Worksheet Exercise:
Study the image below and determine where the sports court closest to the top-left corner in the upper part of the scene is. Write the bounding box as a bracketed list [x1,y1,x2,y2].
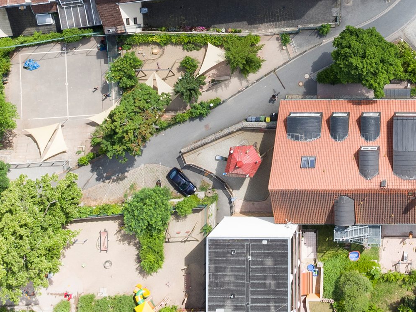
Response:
[11,34,110,123]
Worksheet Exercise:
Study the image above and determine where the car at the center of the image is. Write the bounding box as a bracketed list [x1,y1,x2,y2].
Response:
[170,166,193,193]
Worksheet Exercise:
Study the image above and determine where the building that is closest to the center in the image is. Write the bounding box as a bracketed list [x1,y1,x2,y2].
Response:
[215,144,262,178]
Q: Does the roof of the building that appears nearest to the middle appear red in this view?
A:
Yes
